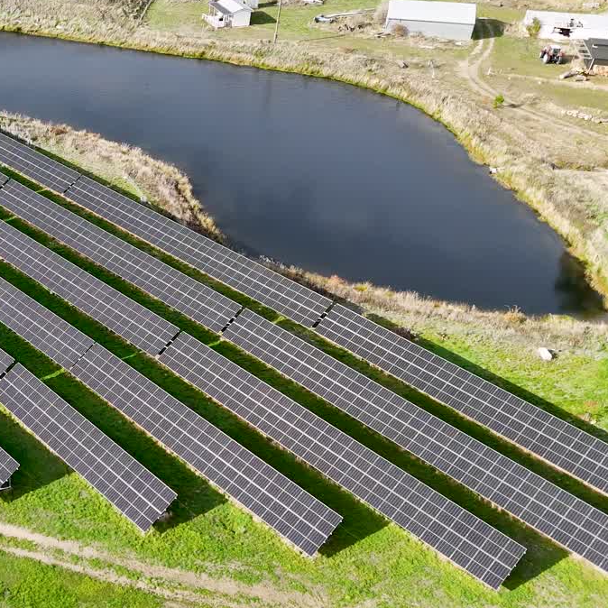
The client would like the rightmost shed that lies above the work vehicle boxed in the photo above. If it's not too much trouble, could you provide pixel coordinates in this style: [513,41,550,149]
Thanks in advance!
[517,6,608,41]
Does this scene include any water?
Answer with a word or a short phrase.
Yes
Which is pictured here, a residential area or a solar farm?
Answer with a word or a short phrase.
solar farm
